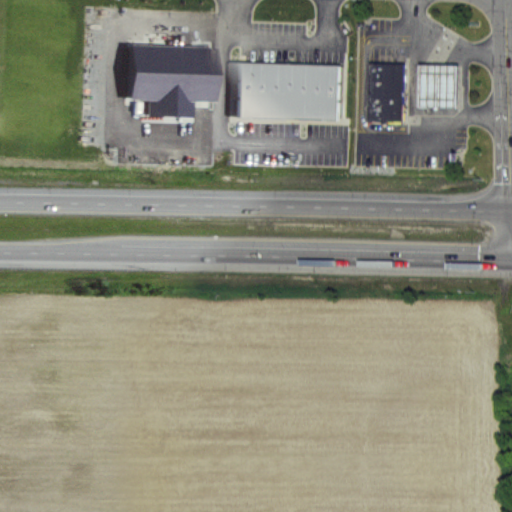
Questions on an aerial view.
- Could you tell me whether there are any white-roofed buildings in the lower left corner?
No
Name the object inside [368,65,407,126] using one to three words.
building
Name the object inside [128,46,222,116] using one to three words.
building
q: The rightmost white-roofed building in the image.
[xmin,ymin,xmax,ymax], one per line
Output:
[416,64,458,110]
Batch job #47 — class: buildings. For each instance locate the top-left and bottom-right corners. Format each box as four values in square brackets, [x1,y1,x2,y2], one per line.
[128,46,222,116]
[416,64,458,110]
[234,63,342,120]
[368,65,407,126]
